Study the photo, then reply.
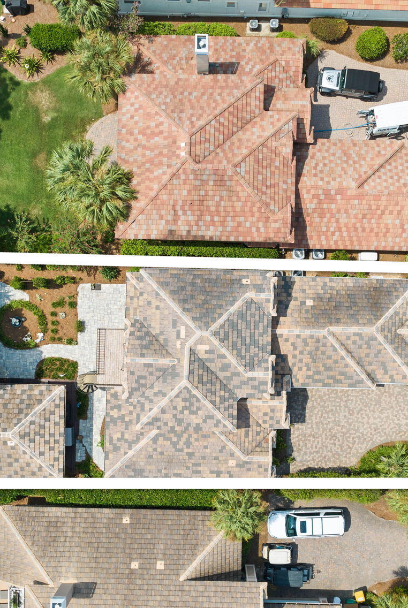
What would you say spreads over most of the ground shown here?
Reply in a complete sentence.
The bulk of the photo consists of buildings.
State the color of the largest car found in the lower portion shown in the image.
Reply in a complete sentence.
The largest car found in the lower portion looks white in the image.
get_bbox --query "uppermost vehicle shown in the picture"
[314,63,384,103]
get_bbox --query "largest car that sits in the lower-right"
[267,505,345,543]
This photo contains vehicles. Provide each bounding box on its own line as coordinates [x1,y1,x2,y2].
[259,542,293,566]
[267,505,345,543]
[356,98,408,141]
[259,565,316,591]
[314,63,384,103]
